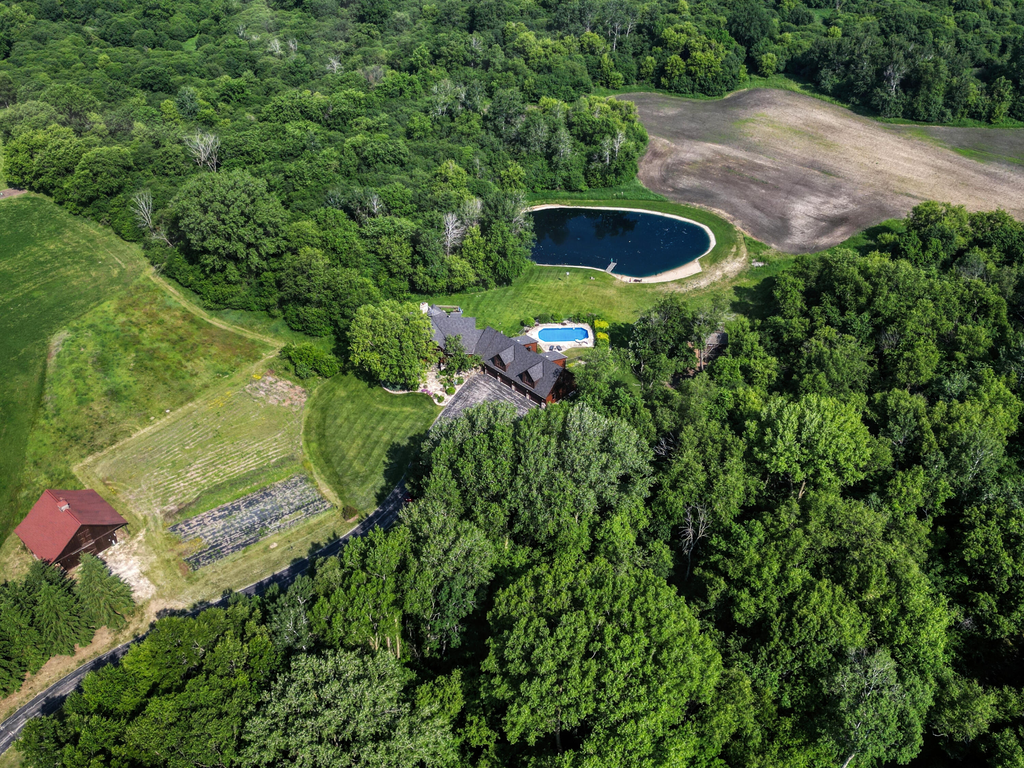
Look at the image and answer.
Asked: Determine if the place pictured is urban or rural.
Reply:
rural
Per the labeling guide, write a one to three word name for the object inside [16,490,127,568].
barn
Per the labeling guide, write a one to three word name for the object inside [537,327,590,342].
swimming pool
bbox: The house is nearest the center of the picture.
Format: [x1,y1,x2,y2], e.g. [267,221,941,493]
[419,293,577,410]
